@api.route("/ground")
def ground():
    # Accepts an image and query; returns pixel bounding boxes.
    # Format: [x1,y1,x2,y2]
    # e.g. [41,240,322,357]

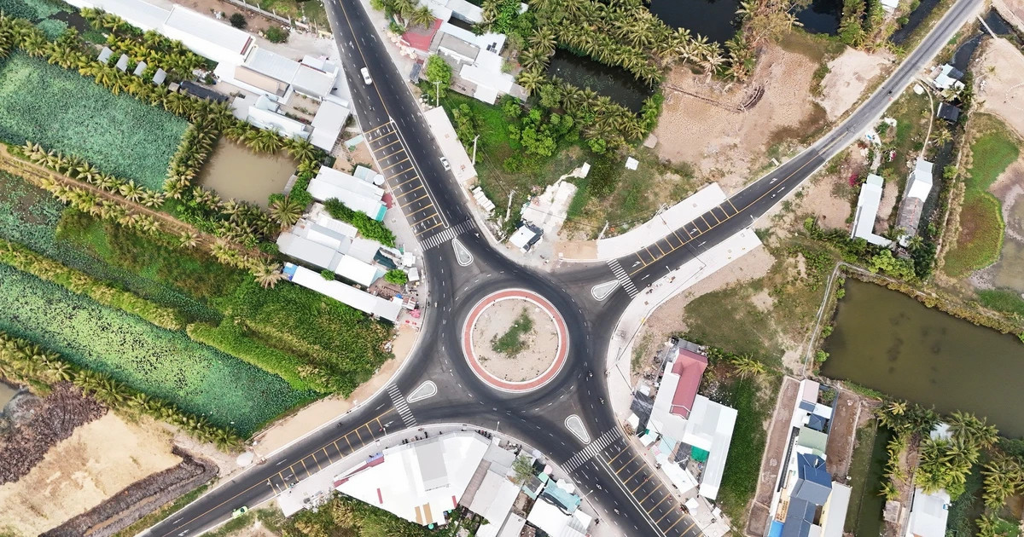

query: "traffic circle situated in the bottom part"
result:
[461,288,568,395]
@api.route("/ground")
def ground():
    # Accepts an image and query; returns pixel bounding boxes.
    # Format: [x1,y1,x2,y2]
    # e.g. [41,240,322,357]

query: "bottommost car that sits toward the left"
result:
[229,505,250,521]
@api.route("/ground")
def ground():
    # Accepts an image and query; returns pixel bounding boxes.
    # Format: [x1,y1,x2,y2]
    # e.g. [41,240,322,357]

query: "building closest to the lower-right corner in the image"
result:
[903,487,950,537]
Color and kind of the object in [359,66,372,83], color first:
white vehicle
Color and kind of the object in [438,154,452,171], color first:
white car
